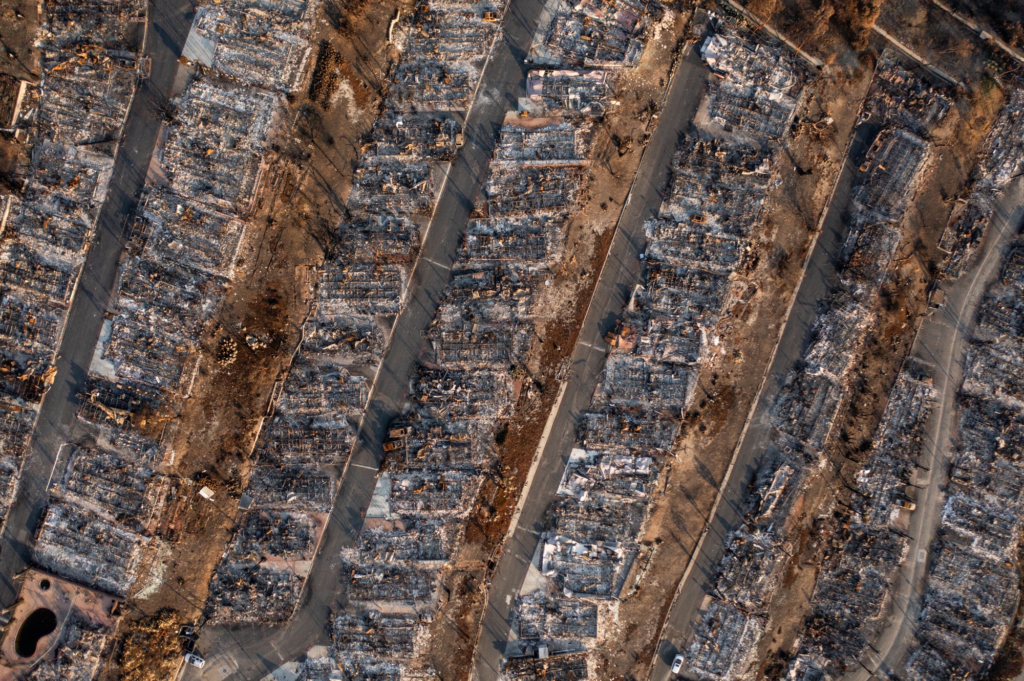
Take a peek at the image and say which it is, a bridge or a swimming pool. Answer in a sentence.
The one in the frame is a swimming pool.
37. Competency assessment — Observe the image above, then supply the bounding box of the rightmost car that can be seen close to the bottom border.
[670,653,684,676]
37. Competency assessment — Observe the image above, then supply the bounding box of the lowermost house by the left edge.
[33,626,126,681]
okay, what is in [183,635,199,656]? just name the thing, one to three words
vehicle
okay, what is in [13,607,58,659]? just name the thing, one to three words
swimming pool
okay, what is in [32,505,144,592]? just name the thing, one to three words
house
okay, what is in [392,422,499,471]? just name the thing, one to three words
house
